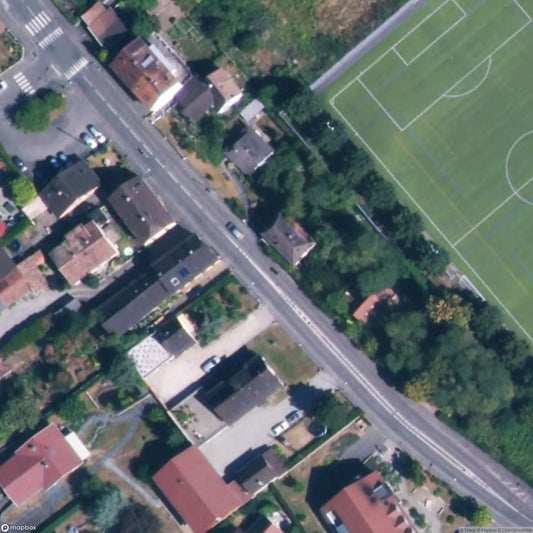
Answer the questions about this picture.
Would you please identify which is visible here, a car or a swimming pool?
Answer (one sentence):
The image shows a car.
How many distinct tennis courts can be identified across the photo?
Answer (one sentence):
There are no tennis courts in the image.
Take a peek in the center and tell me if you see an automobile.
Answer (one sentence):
Yes, you'll find an automobile in the center.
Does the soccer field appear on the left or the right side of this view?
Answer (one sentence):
The soccer field sits on the right side.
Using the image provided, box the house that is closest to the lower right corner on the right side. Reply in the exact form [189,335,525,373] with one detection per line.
[321,471,416,533]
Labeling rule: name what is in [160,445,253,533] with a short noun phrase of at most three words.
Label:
house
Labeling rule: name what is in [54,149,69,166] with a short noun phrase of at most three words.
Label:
car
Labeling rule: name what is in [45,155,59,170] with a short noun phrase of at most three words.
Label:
vehicle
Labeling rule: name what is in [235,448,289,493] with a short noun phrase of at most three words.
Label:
shed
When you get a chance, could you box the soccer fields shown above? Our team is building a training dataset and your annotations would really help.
[314,0,533,361]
